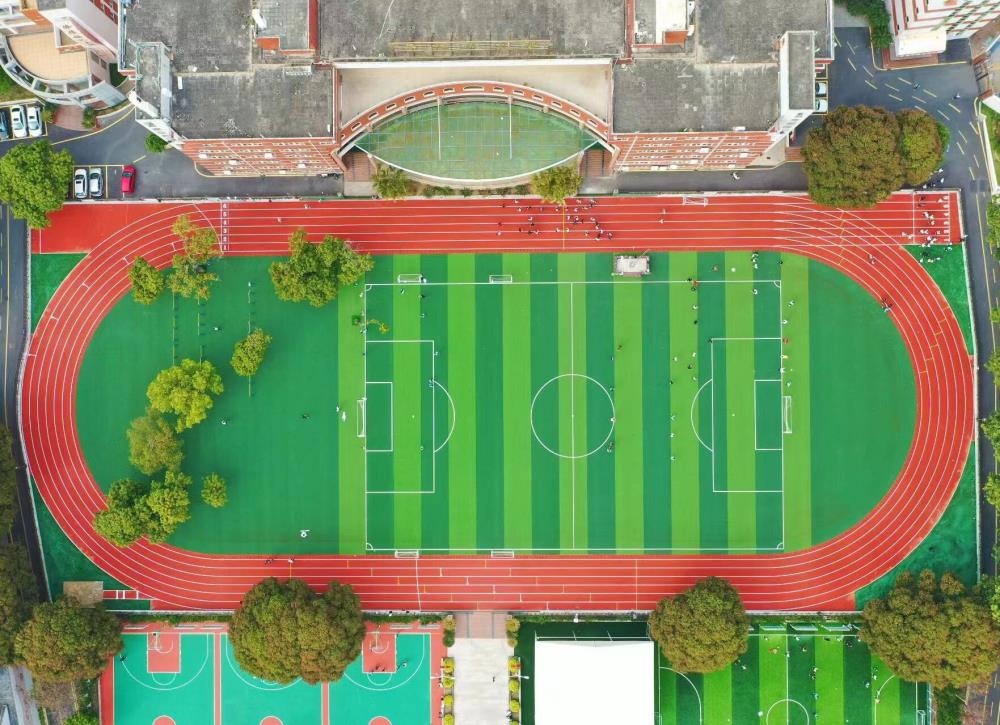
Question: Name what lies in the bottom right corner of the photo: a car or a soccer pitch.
soccer pitch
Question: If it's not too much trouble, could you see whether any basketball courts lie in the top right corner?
No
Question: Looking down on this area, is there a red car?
Yes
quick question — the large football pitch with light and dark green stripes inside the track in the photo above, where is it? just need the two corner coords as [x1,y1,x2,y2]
[339,249,812,556]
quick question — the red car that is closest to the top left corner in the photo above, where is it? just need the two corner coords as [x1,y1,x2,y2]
[119,163,137,192]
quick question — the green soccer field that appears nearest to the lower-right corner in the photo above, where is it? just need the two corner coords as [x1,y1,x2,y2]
[659,624,928,725]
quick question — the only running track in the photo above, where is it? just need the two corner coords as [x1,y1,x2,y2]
[21,192,976,612]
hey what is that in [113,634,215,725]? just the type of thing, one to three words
basketball court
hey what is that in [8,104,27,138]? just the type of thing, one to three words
car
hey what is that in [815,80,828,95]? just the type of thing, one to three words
vehicle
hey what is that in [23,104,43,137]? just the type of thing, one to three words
car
